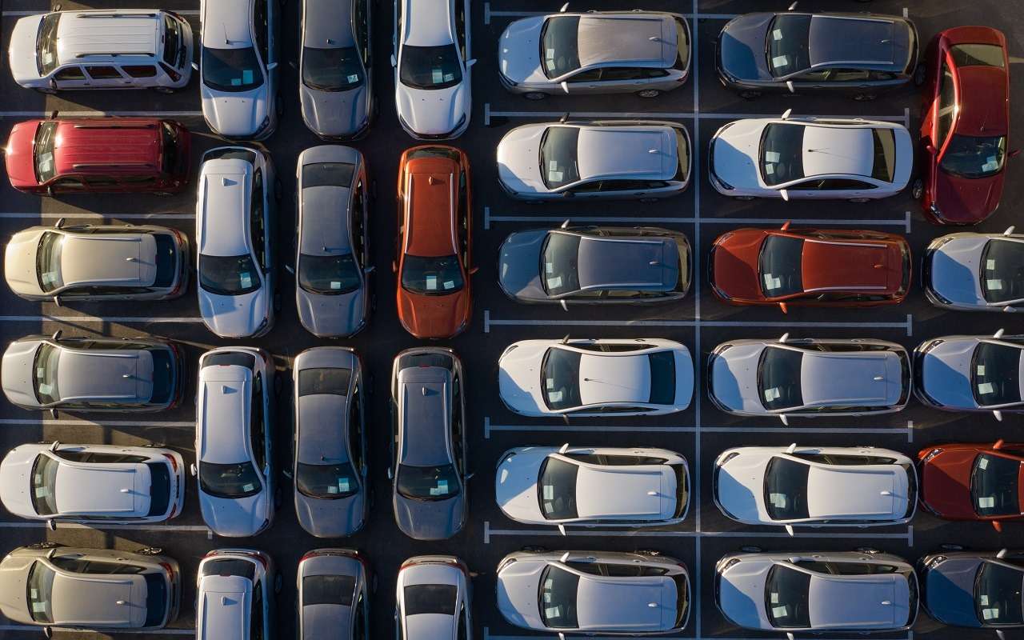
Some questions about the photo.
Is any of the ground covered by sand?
No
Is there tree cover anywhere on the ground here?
No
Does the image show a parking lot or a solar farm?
parking lot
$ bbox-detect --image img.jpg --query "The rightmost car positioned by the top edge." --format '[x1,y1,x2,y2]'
[907,25,1020,226]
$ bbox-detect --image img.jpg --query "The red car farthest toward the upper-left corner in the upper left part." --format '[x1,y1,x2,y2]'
[2,106,196,200]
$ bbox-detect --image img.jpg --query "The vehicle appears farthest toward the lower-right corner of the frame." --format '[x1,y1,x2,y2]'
[915,541,1024,640]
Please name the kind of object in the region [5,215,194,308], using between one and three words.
car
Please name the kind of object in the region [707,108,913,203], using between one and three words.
car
